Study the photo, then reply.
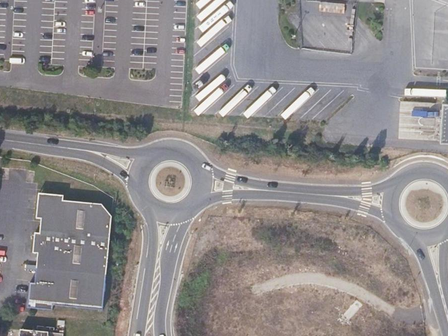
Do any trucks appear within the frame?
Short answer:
Yes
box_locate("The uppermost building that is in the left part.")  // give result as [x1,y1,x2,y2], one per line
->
[24,194,112,310]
